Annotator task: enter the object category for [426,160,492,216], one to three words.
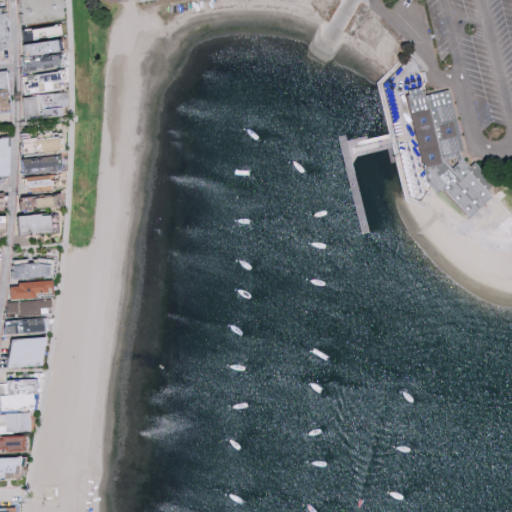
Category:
building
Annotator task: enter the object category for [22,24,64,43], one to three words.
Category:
house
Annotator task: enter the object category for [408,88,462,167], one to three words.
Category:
building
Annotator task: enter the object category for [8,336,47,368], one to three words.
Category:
house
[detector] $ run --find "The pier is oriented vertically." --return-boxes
[340,136,370,234]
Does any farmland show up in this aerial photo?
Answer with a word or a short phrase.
No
